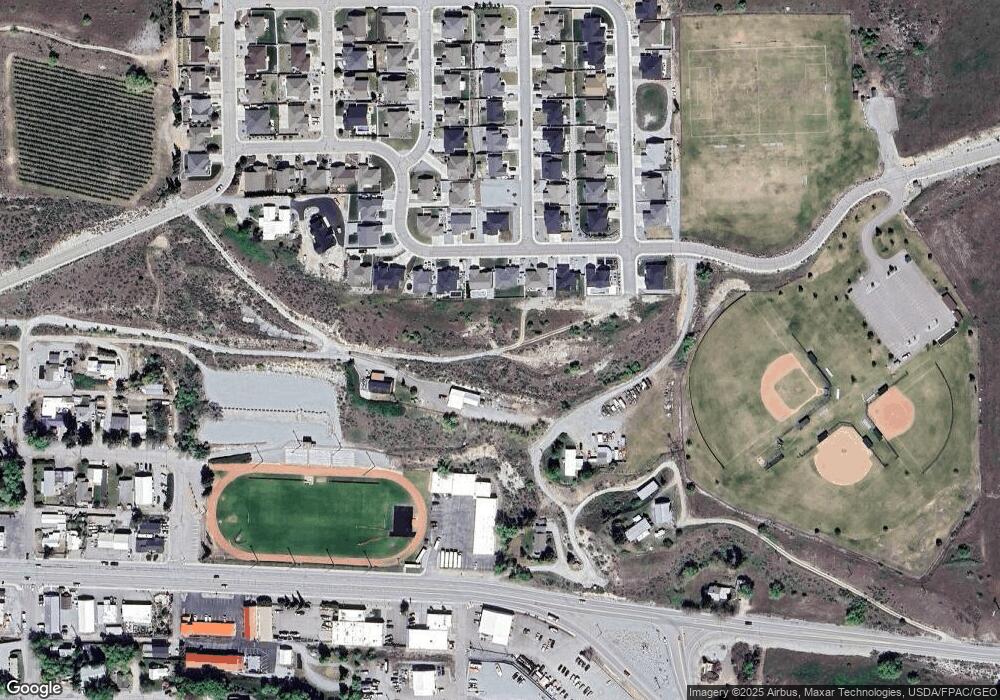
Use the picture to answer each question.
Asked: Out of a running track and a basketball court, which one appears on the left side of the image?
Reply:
running track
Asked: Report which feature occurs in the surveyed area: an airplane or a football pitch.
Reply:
football pitch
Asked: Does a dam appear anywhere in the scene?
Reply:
No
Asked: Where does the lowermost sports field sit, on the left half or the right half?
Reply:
left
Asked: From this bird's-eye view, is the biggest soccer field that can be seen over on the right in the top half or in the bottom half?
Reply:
top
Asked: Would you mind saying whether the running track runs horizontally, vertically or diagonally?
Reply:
horizontally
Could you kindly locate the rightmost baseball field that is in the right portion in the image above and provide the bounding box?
[868,388,915,439]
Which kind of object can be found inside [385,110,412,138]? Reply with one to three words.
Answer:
house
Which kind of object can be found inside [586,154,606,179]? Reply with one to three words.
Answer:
house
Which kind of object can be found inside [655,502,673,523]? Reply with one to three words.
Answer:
barn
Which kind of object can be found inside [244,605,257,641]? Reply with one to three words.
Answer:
building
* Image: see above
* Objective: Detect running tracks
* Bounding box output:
[207,464,428,566]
